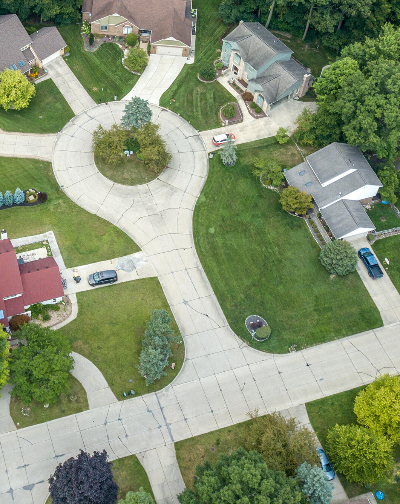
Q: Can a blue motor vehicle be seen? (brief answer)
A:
Yes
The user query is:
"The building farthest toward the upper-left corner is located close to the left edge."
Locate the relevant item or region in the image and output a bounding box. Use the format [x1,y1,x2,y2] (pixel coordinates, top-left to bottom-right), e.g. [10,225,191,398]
[0,15,69,76]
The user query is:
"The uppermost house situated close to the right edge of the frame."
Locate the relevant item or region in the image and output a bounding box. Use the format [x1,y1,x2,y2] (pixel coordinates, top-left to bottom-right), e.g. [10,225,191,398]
[283,143,382,243]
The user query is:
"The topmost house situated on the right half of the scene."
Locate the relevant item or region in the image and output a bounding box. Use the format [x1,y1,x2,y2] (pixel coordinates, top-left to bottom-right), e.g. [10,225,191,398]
[220,19,316,112]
